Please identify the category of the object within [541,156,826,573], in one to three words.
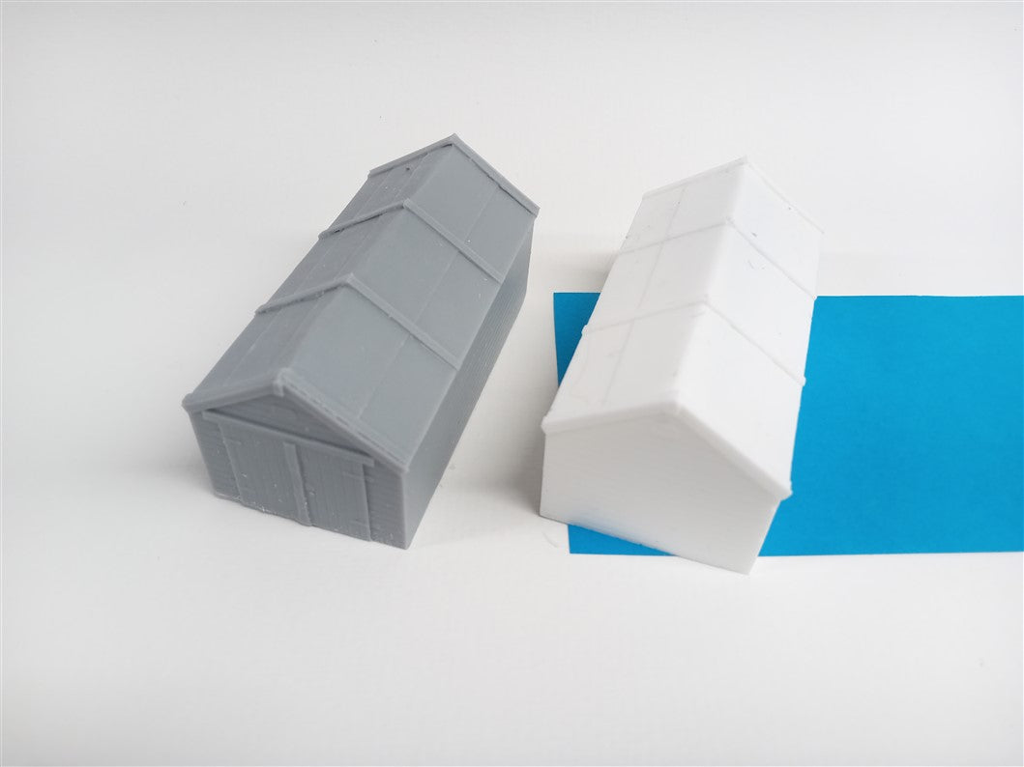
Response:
shed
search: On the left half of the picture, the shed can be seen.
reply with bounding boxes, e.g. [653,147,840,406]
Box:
[181,133,542,548]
